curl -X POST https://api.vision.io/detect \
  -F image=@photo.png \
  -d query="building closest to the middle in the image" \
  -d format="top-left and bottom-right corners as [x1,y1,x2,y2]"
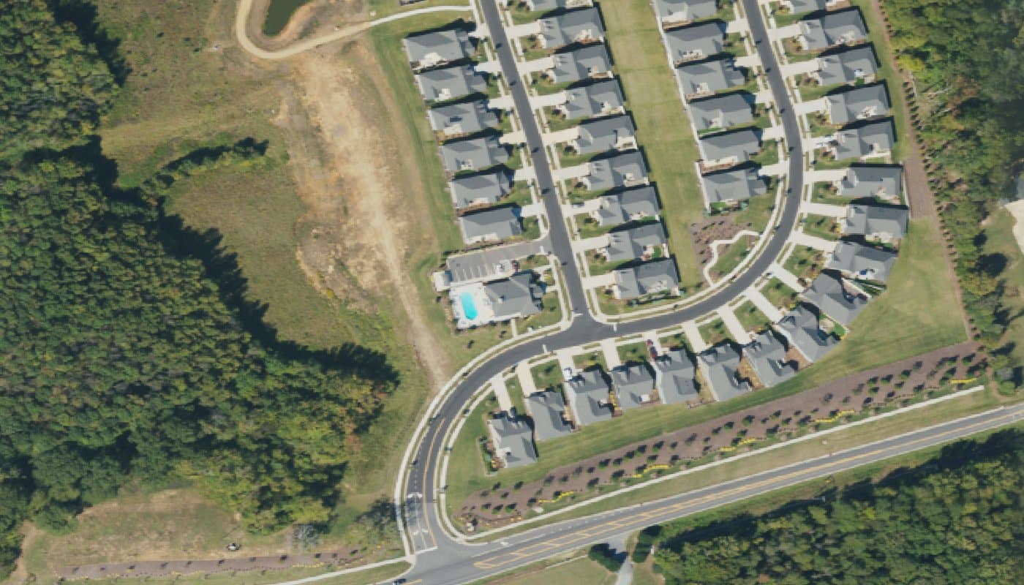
[483,269,549,316]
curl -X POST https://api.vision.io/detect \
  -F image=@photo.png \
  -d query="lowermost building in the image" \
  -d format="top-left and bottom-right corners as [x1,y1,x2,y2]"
[490,417,538,468]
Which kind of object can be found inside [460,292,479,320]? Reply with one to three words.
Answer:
swimming pool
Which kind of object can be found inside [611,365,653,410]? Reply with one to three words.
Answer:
house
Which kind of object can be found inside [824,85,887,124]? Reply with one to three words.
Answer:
house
